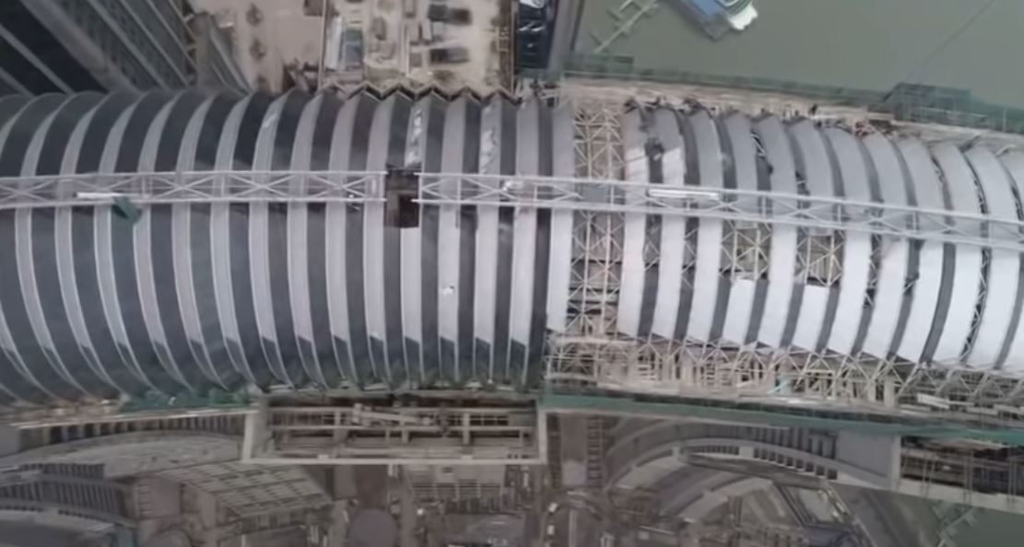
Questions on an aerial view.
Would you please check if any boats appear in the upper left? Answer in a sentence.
No, the scene shows no boat in the upper left.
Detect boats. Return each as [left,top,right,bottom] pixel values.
[661,0,729,43]
[707,0,751,30]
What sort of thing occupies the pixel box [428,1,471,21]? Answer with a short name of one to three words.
vehicle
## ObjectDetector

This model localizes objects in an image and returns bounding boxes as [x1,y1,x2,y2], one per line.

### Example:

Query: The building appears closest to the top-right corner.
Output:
[517,0,553,80]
